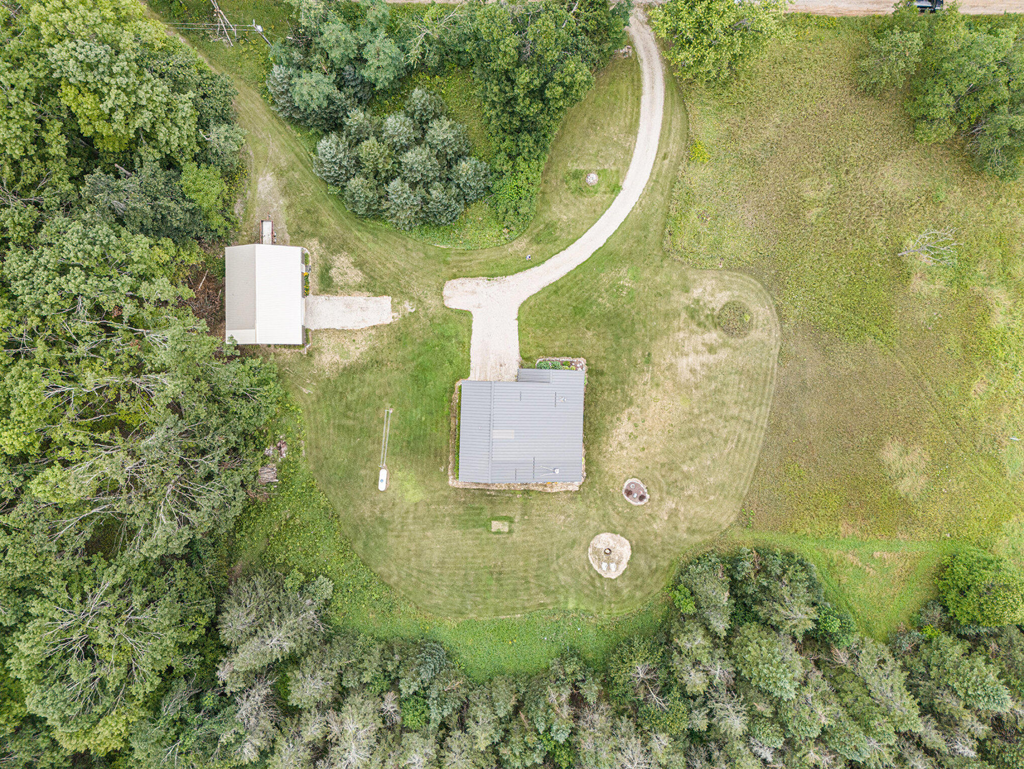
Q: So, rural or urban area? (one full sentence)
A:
The area shown here is rural.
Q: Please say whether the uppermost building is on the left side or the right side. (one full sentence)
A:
The uppermost building is on the left side of the image.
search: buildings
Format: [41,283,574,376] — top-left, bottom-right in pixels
[225,243,310,345]
[458,369,586,484]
